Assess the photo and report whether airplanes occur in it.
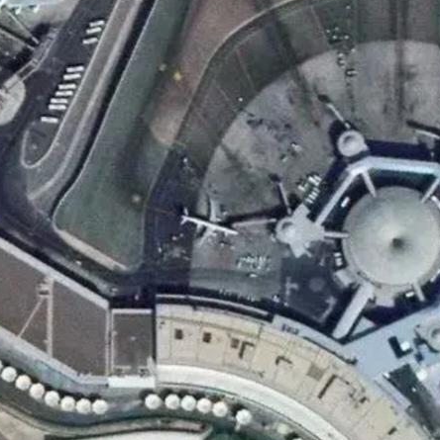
Yes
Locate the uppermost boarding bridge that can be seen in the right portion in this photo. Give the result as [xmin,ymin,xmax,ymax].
[323,98,347,132]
